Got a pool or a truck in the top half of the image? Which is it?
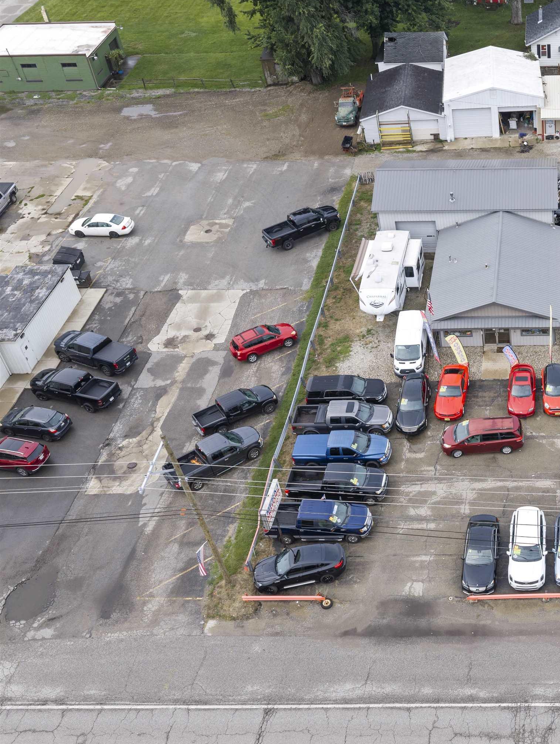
truck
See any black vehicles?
Yes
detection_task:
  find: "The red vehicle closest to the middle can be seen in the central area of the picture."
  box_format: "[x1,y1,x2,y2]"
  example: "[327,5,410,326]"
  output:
[227,326,298,367]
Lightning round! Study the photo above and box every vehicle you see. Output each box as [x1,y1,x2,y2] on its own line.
[390,305,429,384]
[69,215,136,241]
[540,364,560,417]
[333,73,365,126]
[395,378,431,438]
[441,416,525,459]
[506,367,537,419]
[51,334,143,378]
[29,369,126,416]
[189,387,281,441]
[227,326,298,367]
[0,406,78,447]
[288,430,393,470]
[435,367,469,424]
[259,210,342,253]
[0,437,53,481]
[0,187,28,215]
[459,520,499,601]
[507,511,547,593]
[302,377,390,407]
[292,400,393,437]
[261,500,375,547]
[253,547,348,595]
[157,427,267,498]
